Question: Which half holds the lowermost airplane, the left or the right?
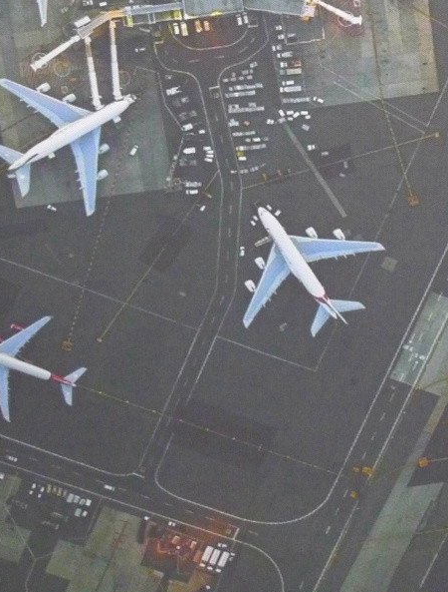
left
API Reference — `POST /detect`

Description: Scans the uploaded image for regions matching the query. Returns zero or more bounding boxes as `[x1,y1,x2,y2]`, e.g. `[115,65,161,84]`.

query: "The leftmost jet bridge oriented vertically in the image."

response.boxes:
[81,35,104,112]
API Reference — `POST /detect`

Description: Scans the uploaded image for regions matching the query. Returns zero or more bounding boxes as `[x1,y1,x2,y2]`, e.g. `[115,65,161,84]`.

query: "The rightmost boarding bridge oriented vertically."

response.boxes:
[106,20,124,102]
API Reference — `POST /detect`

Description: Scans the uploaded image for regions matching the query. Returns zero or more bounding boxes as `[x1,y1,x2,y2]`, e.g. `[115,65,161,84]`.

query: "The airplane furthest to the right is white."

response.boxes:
[249,207,383,341]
